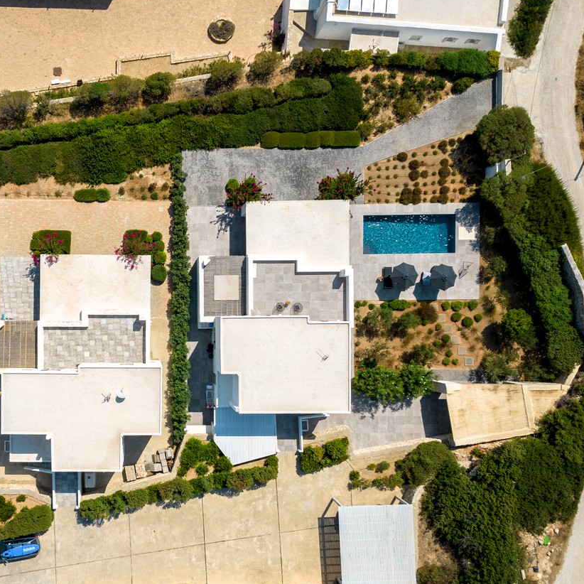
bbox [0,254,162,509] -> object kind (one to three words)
house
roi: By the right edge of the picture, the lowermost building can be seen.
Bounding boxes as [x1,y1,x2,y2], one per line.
[432,381,568,442]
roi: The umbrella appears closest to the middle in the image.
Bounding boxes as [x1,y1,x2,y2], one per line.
[391,263,417,291]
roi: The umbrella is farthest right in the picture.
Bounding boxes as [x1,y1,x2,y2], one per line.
[430,264,456,291]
